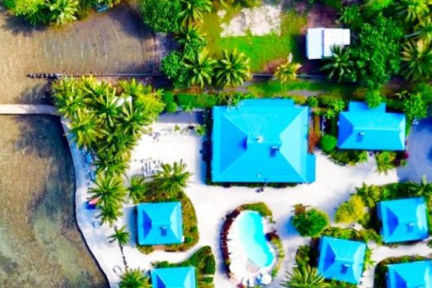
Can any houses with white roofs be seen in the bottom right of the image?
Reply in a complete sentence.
No, no house with a white roof is visible in the bottom right of the image.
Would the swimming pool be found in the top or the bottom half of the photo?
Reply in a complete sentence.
The swimming pool is in the bottom half of the image.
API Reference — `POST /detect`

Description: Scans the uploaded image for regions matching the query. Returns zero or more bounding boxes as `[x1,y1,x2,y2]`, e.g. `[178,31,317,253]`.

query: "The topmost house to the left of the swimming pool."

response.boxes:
[134,203,182,245]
